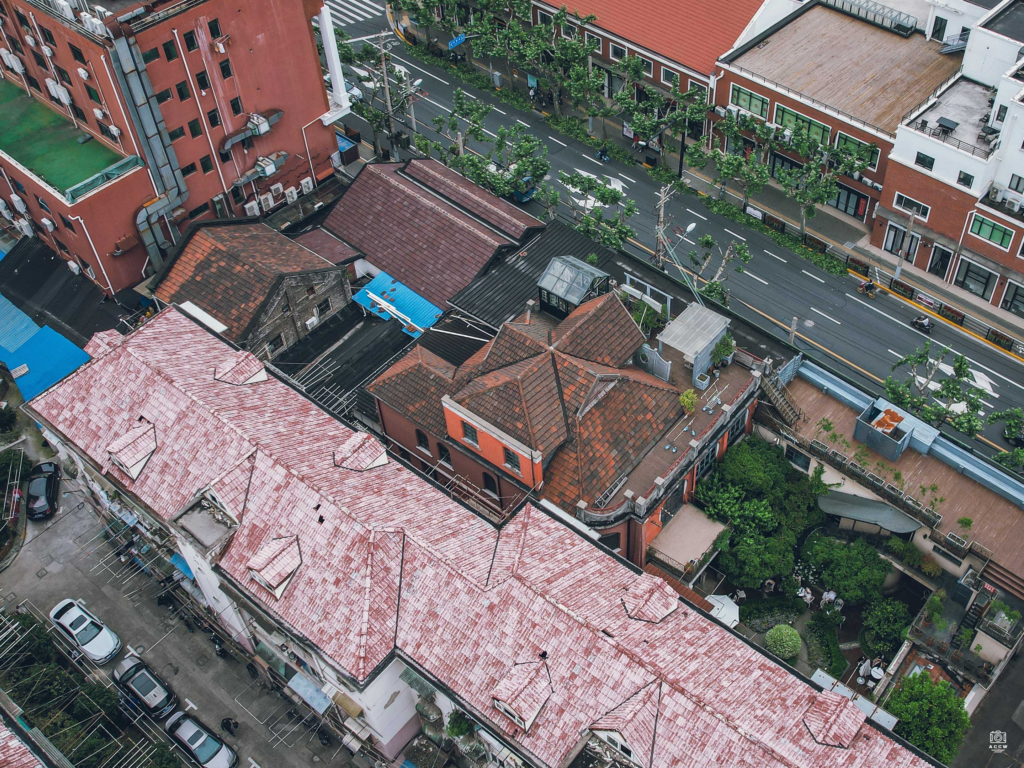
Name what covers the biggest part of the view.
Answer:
buildings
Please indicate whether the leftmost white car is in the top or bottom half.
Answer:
bottom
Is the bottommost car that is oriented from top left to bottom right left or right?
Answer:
left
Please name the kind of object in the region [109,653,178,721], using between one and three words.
car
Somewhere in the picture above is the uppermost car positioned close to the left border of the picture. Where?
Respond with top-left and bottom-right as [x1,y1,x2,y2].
[21,462,61,525]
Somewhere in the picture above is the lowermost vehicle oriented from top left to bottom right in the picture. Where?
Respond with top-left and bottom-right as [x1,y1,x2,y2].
[161,704,239,768]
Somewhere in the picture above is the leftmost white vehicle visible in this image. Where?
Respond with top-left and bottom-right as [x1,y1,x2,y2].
[50,593,119,665]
